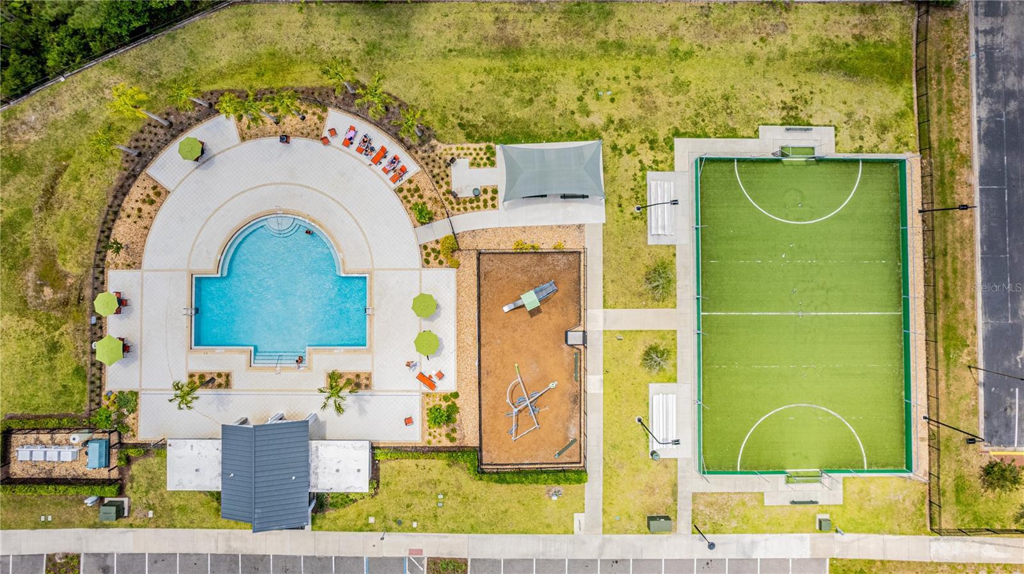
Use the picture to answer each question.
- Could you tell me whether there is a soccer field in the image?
Yes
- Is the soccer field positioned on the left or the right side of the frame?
right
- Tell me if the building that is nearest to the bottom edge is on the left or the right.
left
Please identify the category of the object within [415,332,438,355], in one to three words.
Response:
umbrella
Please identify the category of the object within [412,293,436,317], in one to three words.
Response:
umbrella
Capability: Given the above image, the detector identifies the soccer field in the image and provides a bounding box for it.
[694,144,930,489]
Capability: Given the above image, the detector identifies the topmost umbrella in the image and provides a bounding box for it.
[179,137,206,159]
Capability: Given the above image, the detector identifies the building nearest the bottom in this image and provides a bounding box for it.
[166,411,374,533]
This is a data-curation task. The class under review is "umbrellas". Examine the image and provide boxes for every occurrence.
[94,292,118,315]
[97,335,127,365]
[412,293,436,317]
[415,332,438,355]
[179,137,206,159]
